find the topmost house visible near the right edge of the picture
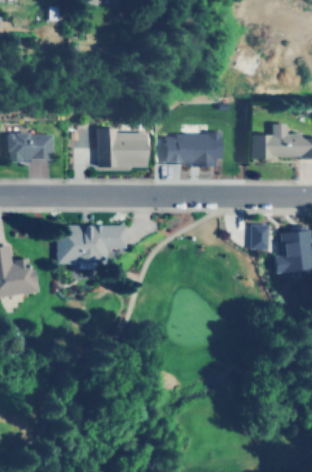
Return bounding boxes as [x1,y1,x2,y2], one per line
[253,124,312,162]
